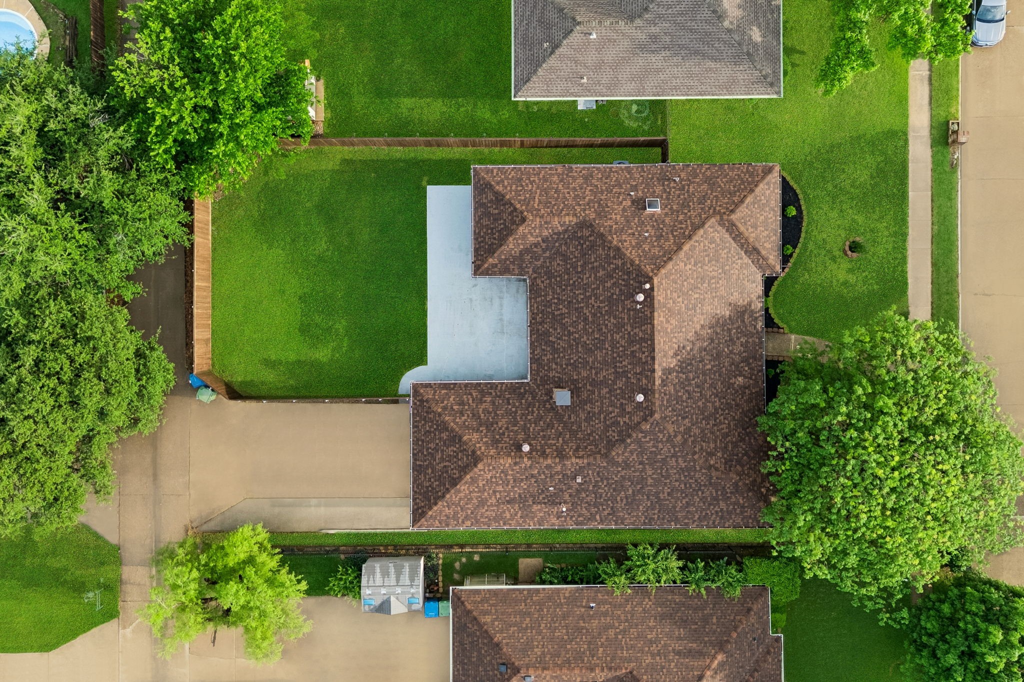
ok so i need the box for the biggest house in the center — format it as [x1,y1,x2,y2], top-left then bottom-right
[406,160,785,532]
